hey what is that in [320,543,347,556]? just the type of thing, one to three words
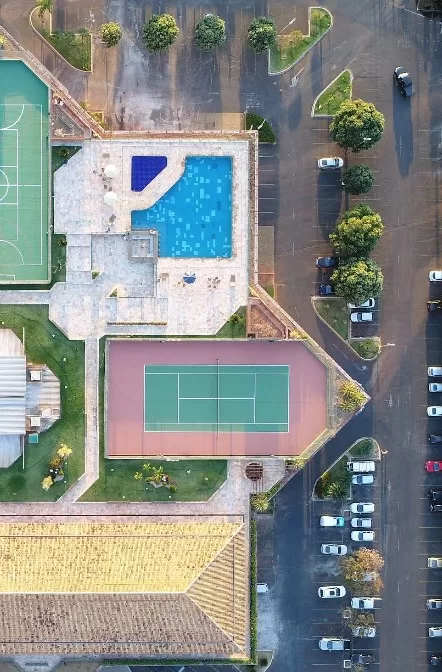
vehicle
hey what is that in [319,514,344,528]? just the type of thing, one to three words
vehicle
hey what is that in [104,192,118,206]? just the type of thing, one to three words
umbrella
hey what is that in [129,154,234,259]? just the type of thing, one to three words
swimming pool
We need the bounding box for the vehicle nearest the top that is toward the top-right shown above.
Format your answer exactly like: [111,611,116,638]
[392,66,415,99]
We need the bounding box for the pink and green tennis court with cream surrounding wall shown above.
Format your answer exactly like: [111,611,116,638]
[102,339,334,463]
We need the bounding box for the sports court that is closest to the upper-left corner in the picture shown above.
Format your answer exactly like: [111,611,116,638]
[0,55,50,280]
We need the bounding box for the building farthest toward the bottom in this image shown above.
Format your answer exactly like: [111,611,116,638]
[0,514,249,658]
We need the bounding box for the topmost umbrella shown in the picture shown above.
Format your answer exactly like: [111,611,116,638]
[104,165,118,179]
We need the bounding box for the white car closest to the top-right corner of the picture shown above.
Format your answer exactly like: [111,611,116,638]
[317,156,344,169]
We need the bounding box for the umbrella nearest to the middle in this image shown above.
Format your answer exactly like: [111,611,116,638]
[183,272,197,285]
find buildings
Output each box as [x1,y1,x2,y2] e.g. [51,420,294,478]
[0,514,249,658]
[0,328,30,469]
